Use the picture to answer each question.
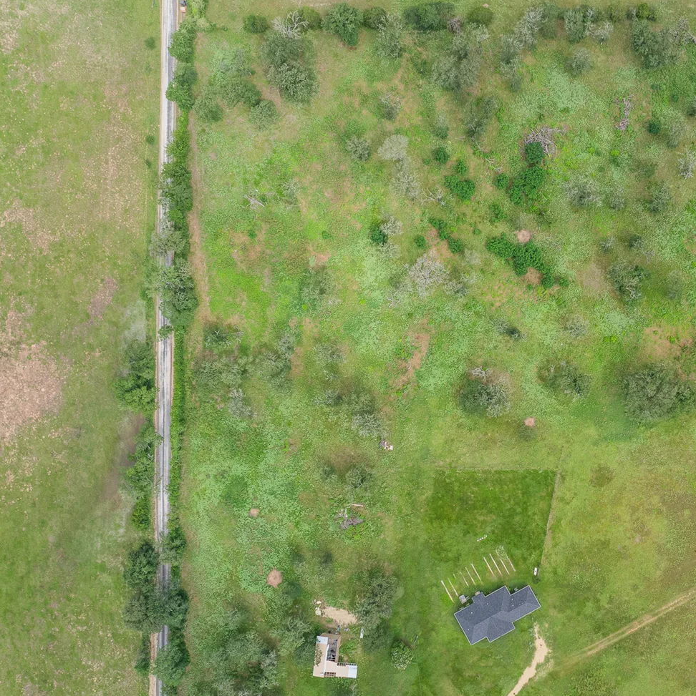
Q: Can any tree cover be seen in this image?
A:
Yes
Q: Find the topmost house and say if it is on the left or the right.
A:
right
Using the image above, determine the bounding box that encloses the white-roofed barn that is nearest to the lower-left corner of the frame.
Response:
[313,633,358,678]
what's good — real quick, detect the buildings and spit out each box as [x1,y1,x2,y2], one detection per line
[313,633,358,678]
[453,584,542,646]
